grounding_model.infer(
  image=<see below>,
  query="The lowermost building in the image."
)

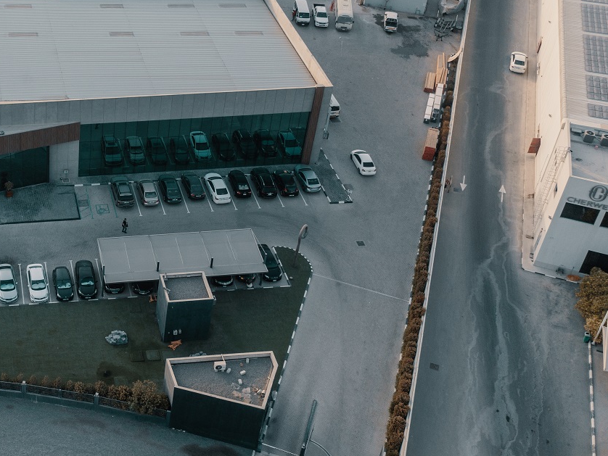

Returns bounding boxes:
[163,351,278,450]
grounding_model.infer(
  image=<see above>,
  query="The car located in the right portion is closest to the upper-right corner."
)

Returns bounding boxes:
[510,52,529,73]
